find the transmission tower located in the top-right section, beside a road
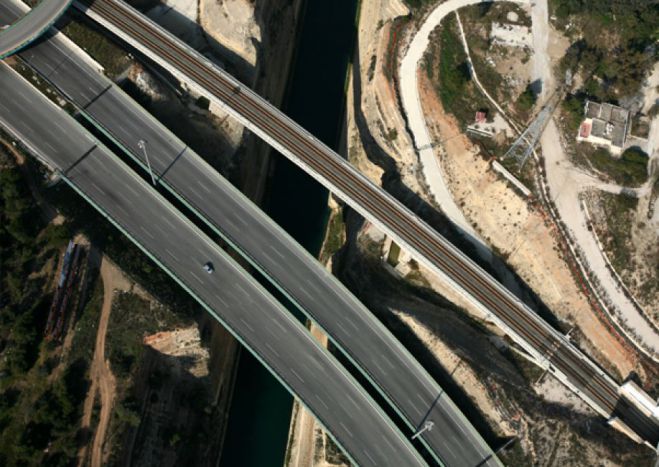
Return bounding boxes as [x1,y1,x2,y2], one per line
[500,85,565,170]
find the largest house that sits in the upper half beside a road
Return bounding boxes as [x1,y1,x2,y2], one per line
[575,100,631,161]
